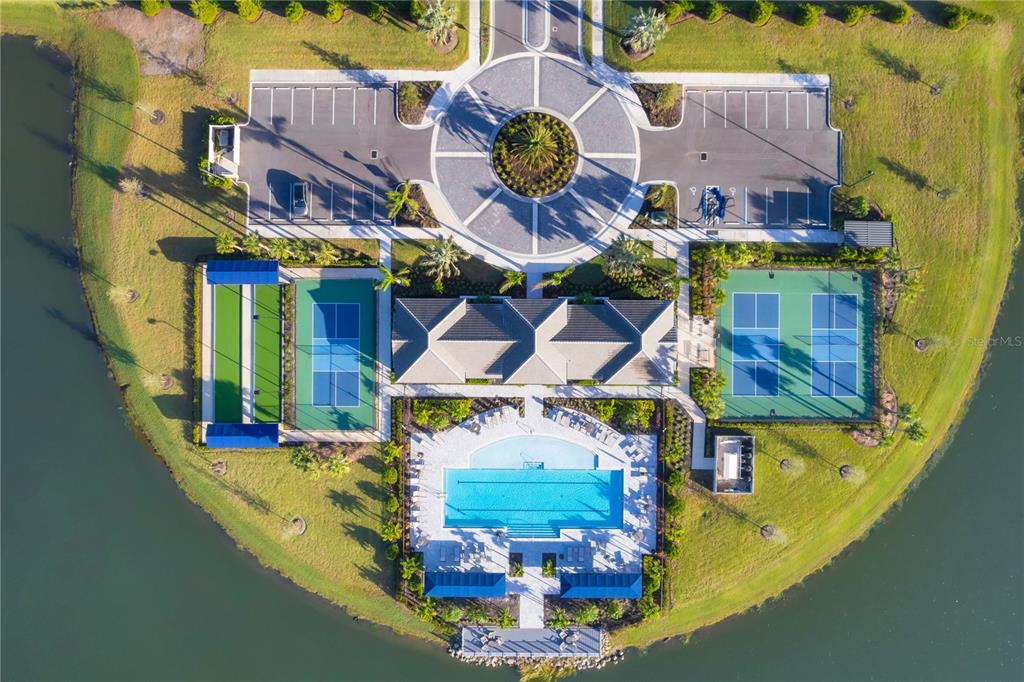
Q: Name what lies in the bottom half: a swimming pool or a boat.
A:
swimming pool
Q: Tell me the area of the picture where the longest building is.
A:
center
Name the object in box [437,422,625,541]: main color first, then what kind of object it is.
blue swimming pool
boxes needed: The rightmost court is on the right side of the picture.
[796,270,875,421]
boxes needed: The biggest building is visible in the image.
[390,294,680,385]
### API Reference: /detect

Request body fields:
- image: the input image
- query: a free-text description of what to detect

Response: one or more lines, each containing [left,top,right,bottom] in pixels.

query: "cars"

[290,182,309,219]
